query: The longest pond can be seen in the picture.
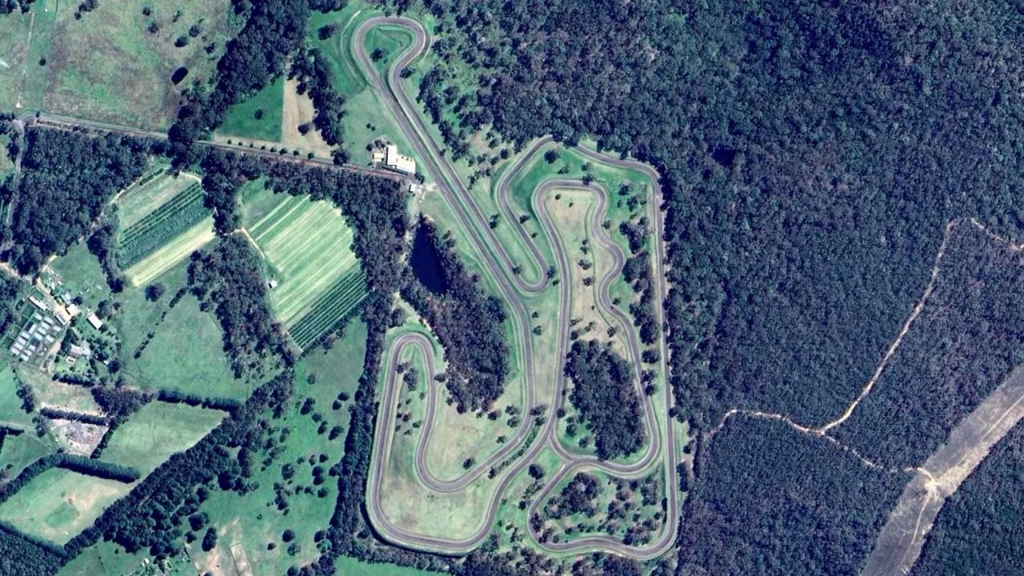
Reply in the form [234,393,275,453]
[412,217,447,294]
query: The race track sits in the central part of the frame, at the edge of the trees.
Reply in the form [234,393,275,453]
[351,12,681,559]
